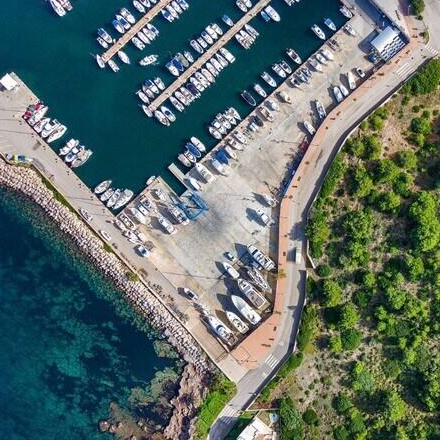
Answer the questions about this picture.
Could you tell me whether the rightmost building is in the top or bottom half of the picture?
top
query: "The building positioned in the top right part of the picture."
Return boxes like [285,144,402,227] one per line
[370,26,407,64]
